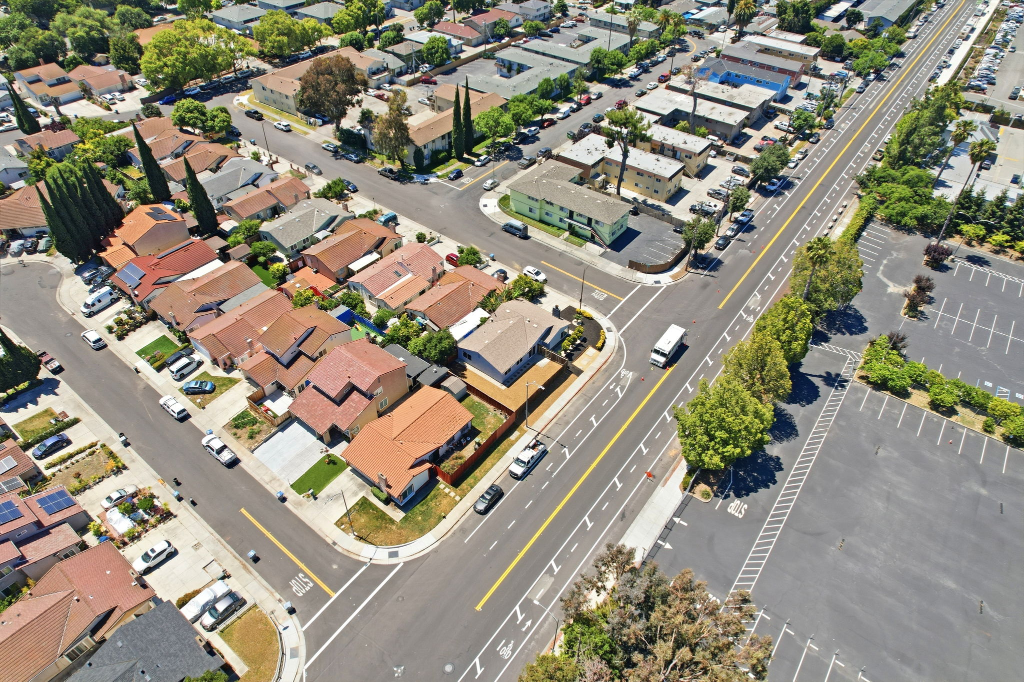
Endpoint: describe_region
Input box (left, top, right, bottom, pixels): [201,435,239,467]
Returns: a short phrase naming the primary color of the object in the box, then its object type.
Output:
white truck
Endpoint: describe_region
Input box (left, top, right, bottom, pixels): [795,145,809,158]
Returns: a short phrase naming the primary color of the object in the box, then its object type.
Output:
white vehicle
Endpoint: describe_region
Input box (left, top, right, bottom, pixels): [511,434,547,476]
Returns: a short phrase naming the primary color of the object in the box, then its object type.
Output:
white truck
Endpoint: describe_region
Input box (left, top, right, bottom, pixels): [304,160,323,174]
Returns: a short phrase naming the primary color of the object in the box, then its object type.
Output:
gray car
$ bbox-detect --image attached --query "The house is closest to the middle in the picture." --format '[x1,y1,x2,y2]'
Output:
[458,299,571,381]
